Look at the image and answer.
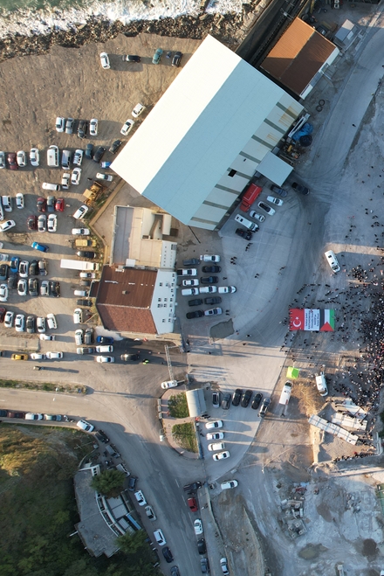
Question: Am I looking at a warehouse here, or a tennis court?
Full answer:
There is a warehouse in the scene.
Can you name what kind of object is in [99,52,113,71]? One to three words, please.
vehicle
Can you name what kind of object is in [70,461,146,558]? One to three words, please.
house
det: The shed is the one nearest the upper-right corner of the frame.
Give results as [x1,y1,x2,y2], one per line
[334,19,357,44]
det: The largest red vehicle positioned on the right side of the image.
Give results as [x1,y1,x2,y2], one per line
[240,183,265,212]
